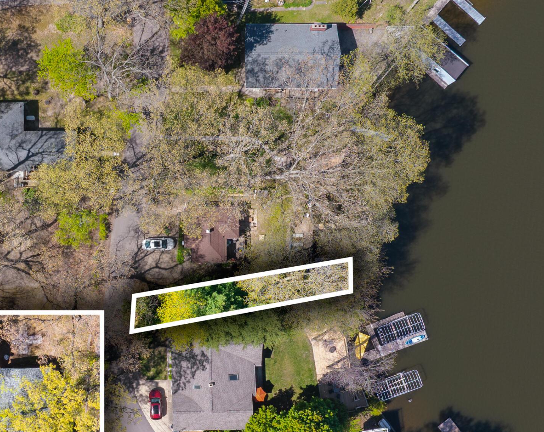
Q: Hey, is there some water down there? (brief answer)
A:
Yes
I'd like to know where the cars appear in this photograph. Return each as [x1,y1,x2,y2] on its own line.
[148,387,164,420]
[141,236,175,253]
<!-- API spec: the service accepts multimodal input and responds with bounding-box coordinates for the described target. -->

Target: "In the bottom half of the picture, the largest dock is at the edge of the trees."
[362,322,428,361]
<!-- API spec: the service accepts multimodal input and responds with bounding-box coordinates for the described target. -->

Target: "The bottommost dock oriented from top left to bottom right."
[435,17,465,48]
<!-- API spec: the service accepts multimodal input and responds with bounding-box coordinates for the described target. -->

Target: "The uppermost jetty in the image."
[453,0,487,27]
